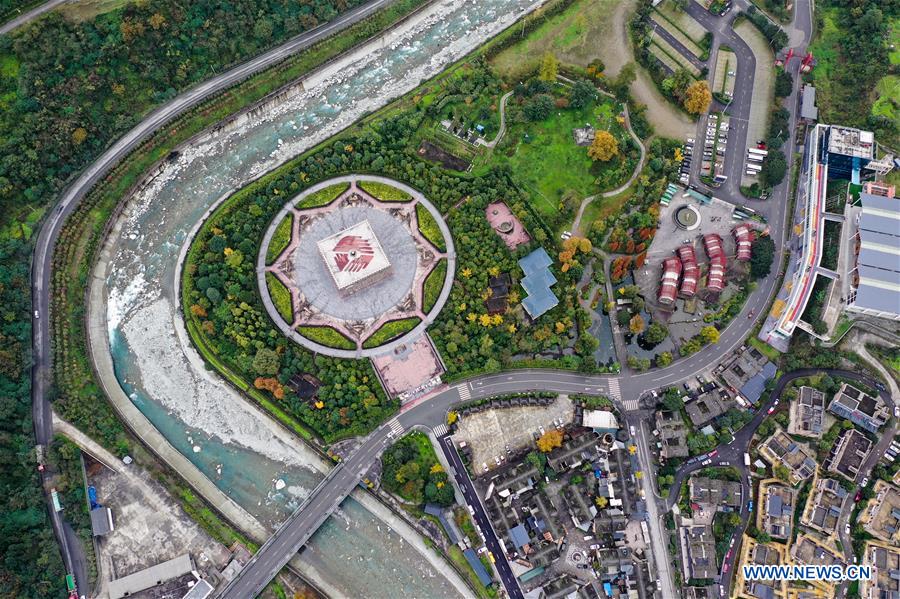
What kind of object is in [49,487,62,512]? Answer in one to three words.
vehicle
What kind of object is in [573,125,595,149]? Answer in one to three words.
building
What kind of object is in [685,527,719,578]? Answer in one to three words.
house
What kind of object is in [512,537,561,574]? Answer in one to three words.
house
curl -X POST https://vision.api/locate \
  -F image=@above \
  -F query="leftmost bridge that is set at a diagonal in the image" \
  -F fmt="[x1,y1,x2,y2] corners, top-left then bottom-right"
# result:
[208,442,384,599]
